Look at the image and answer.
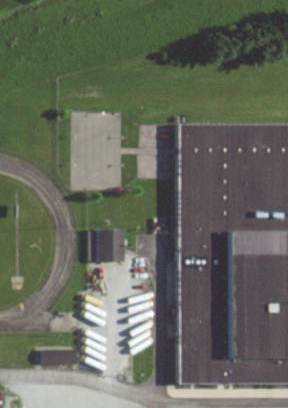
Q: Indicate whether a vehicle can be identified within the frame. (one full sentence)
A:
Yes, looking at the shot, I can spot a vehicle.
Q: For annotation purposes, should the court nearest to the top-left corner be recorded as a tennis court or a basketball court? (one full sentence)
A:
Specifically, the court nearest to the top-left corner is a basketball court.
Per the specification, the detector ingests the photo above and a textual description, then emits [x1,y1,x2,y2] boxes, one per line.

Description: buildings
[41,350,78,363]
[175,124,288,384]
[88,230,124,262]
